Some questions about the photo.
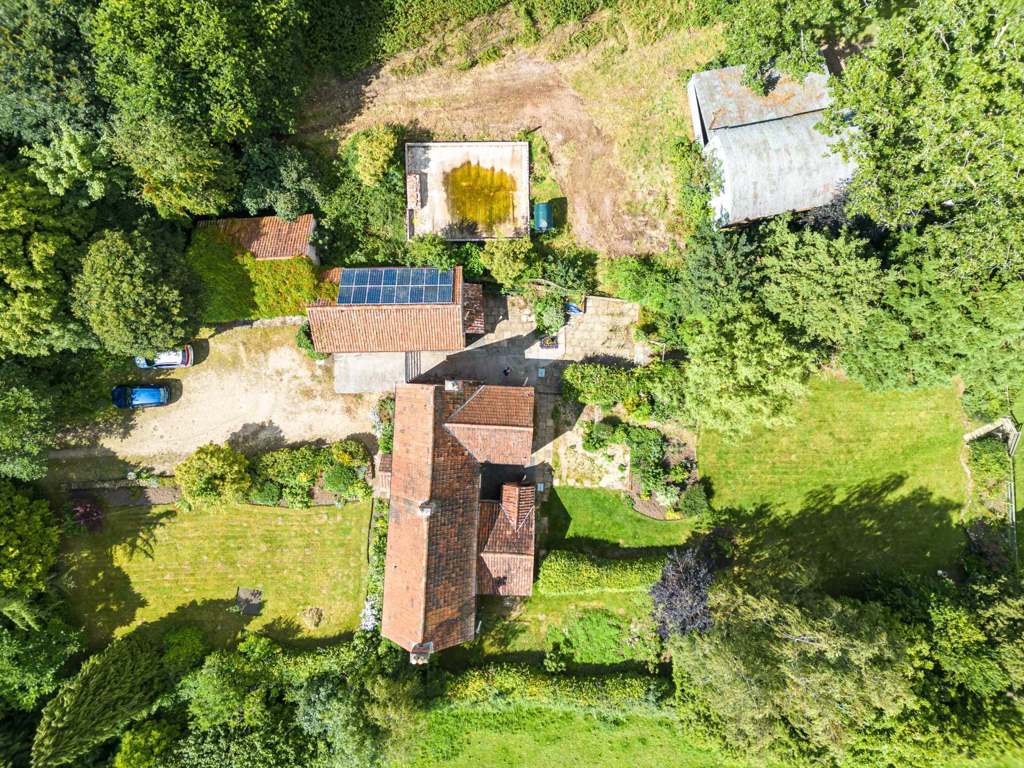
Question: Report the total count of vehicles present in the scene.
2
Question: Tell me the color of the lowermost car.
blue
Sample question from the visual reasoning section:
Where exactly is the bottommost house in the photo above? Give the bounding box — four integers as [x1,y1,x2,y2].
[378,377,535,664]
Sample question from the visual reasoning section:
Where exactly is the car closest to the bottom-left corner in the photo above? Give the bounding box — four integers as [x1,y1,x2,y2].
[113,383,172,411]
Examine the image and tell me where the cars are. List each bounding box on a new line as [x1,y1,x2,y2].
[137,343,195,371]
[113,383,172,411]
